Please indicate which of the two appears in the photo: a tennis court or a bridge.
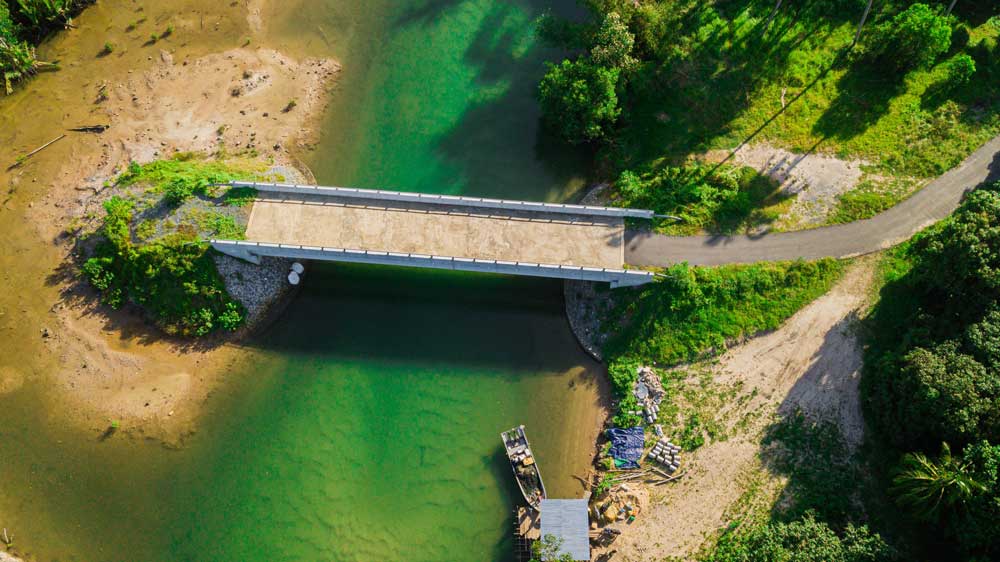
bridge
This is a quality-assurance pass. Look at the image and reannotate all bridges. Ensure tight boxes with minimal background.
[188,180,680,289]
